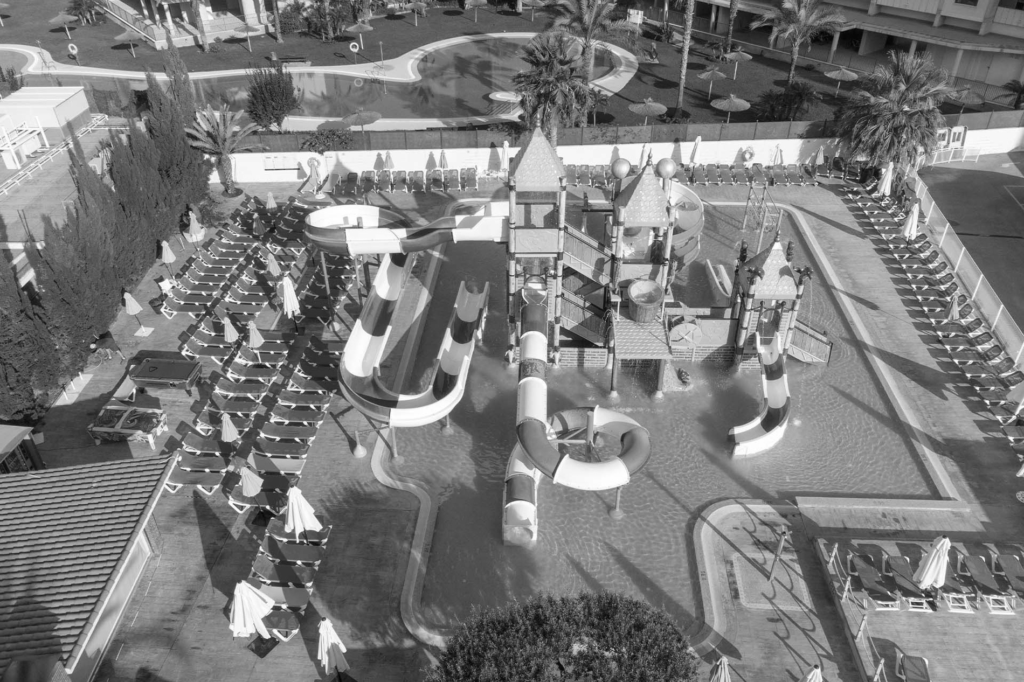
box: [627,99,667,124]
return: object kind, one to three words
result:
umbrella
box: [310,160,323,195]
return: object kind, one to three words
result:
umbrella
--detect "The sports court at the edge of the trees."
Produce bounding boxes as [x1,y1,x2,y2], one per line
[922,168,1024,333]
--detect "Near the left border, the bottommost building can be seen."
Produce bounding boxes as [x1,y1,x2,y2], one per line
[0,451,188,682]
